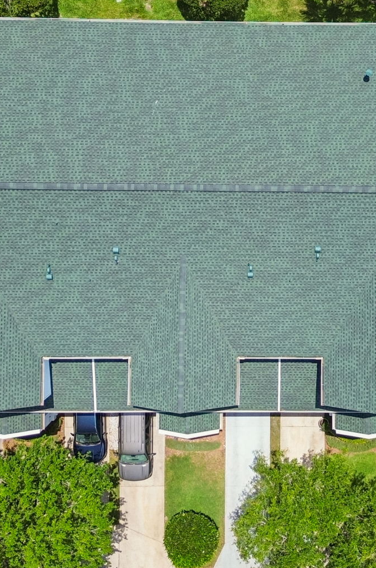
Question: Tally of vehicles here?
two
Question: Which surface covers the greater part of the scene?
buildings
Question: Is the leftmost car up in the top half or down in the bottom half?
bottom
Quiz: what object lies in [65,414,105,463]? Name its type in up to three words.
car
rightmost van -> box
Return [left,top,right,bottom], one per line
[114,414,155,480]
